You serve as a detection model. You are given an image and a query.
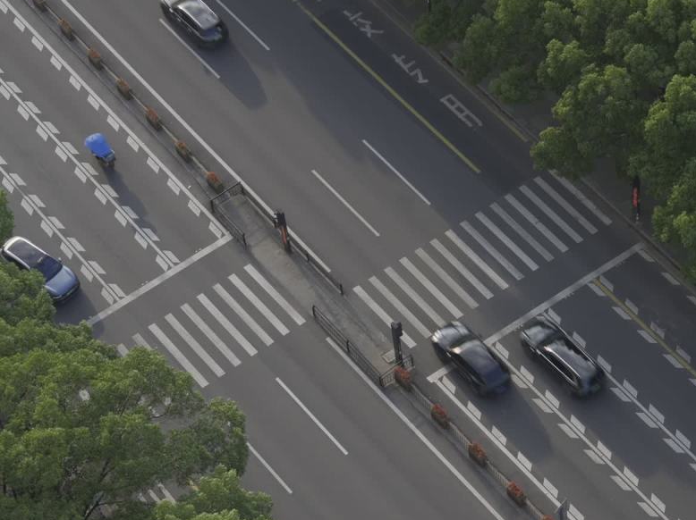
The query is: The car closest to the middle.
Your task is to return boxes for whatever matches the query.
[427,316,509,394]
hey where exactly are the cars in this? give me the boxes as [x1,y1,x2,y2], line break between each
[160,0,226,39]
[518,313,602,393]
[427,316,509,394]
[0,237,77,302]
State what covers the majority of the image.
paved ground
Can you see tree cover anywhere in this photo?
Yes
